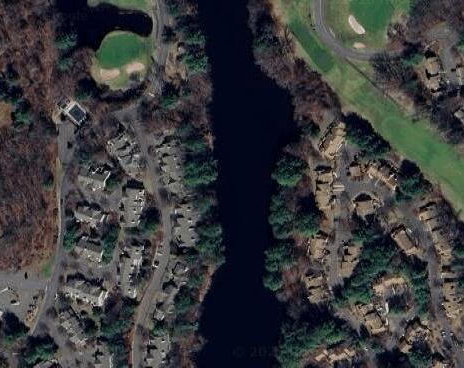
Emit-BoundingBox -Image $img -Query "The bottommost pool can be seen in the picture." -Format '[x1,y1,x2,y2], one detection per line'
[65,102,89,124]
